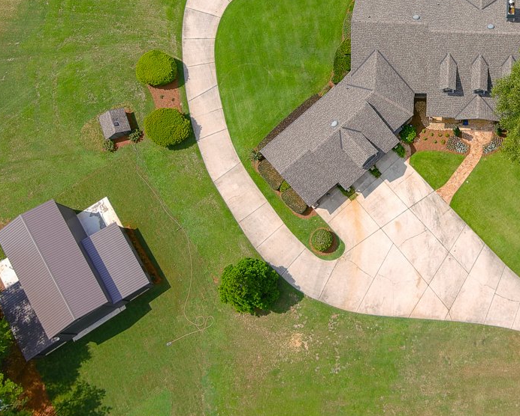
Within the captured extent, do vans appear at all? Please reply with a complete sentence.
No, this view has no van in it.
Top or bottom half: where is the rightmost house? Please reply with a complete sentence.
You can find the rightmost house in the top half.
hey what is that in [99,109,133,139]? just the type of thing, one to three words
shed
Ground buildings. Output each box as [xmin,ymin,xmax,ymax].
[259,0,520,204]
[99,109,133,139]
[0,202,153,361]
